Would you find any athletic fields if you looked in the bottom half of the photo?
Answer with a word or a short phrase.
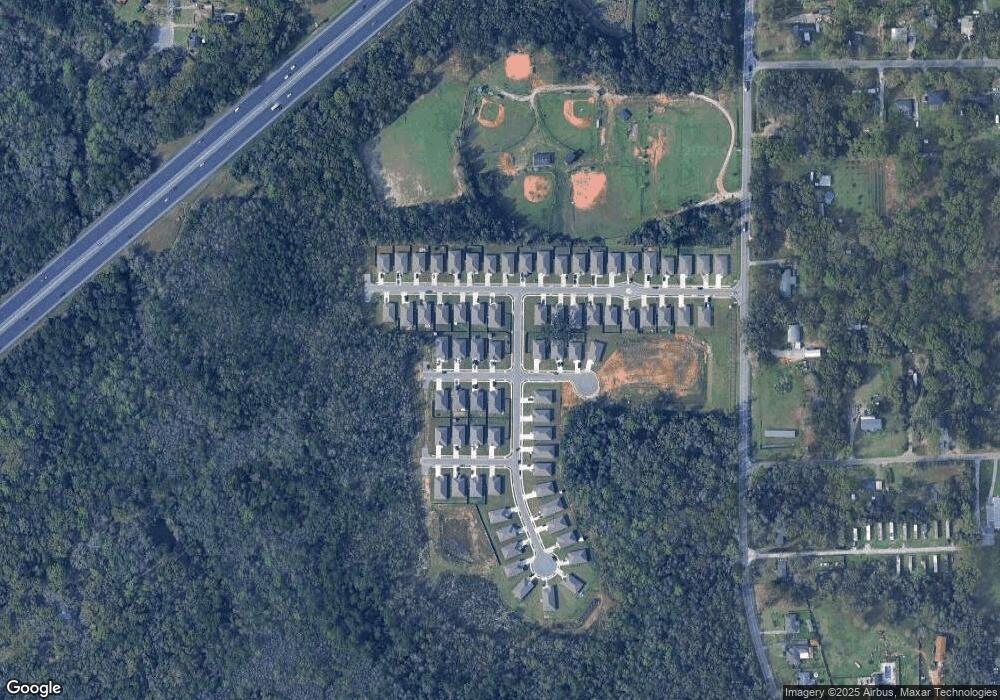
No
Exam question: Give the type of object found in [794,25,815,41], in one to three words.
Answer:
house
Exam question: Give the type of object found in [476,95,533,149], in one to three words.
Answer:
baseball field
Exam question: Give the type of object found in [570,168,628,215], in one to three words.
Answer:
baseball field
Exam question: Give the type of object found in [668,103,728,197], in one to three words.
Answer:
sports field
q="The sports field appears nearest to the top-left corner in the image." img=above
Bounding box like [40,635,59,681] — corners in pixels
[384,80,468,205]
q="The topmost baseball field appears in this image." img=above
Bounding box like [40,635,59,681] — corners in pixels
[493,51,535,94]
